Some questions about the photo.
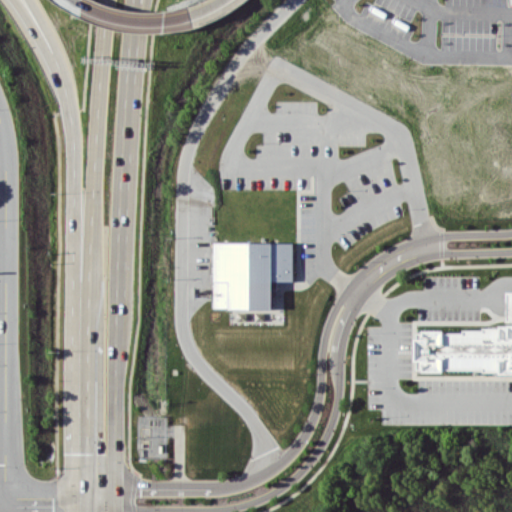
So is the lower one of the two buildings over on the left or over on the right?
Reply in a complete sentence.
The lower one of the two buildings sits on the right side.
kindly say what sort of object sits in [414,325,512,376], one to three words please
building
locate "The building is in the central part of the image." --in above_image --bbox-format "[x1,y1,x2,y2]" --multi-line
[213,244,294,310]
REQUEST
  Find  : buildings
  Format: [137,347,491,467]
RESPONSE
[414,325,512,376]
[213,244,294,310]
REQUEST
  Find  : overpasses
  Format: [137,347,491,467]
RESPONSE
[50,0,256,34]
